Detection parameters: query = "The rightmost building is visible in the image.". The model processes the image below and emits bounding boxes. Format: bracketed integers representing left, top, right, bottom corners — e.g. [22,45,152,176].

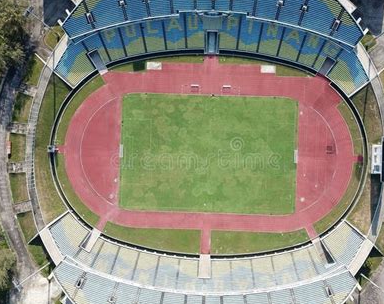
[365,143,382,175]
